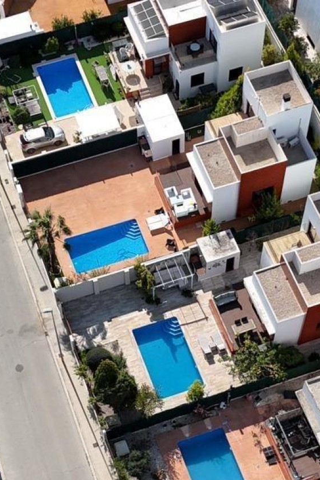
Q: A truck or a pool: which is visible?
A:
pool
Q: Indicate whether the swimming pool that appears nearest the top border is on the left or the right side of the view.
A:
left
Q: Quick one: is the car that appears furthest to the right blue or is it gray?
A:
gray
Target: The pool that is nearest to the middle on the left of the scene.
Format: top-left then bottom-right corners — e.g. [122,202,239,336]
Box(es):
[64,217,150,274]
